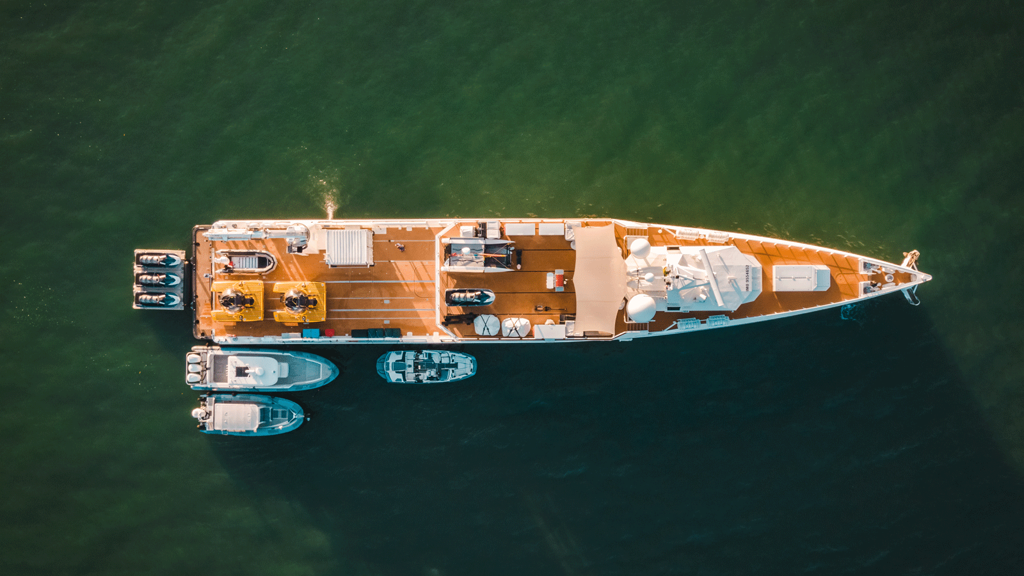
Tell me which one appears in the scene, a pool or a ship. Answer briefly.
ship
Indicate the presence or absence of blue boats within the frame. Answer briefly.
Yes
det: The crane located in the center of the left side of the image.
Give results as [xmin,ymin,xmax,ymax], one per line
[208,221,316,256]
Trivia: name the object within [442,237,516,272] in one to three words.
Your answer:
boat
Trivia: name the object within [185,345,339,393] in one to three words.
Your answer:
boat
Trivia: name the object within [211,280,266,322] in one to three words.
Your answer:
ship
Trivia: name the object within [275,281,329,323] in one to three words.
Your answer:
ship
